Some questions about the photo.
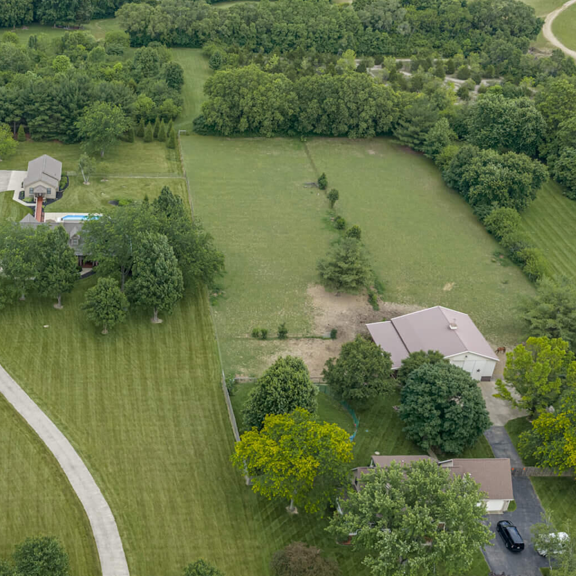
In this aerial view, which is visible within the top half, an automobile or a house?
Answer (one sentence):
Looking within the top half, you will find a house.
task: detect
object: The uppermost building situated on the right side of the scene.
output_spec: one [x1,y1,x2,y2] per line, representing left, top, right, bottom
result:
[361,305,500,381]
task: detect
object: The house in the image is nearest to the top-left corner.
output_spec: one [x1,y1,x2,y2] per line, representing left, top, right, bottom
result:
[21,153,63,202]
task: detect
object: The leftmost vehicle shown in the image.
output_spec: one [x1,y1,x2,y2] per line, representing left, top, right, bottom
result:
[497,523,528,551]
